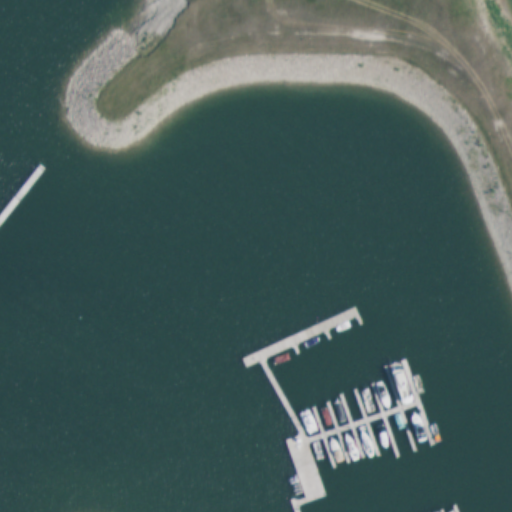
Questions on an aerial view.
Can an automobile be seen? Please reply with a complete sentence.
No, no automobile is visible in the view.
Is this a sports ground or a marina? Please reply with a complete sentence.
What you see here is a marina.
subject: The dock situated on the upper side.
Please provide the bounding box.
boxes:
[0,164,46,226]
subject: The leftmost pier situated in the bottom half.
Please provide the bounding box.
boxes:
[243,306,436,512]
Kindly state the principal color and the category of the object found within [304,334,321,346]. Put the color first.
blue boat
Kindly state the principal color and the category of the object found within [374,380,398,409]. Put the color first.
white boat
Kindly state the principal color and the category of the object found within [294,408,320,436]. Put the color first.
white boat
